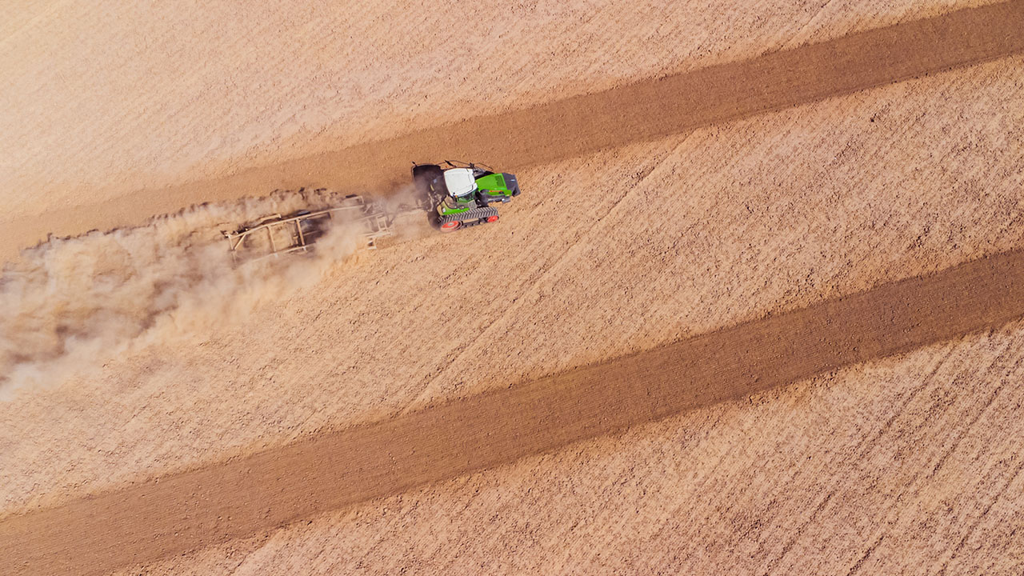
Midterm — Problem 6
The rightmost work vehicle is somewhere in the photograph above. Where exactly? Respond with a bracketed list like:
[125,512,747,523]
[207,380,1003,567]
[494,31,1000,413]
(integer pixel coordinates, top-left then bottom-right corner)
[414,164,519,233]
